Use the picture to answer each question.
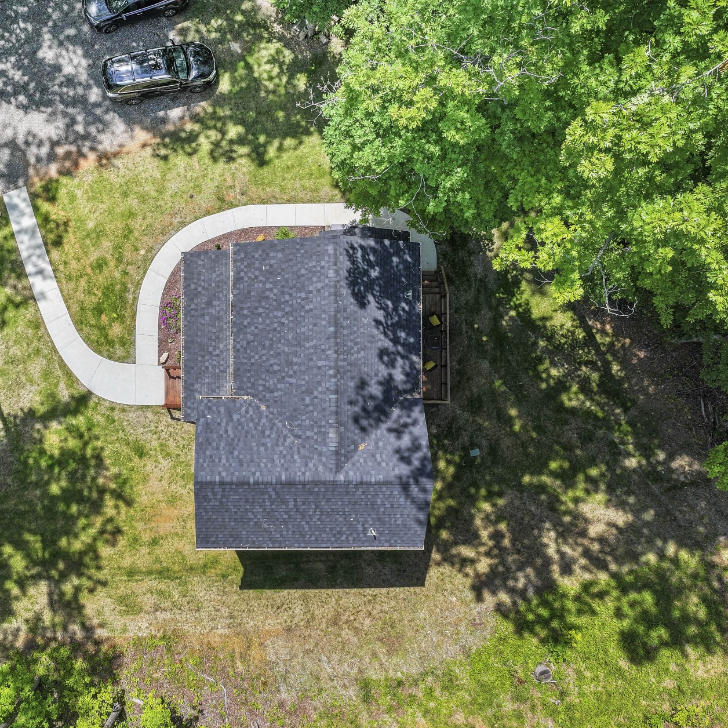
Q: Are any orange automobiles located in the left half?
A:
No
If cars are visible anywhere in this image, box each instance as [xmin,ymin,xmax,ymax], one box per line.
[103,39,219,107]
[80,0,192,35]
